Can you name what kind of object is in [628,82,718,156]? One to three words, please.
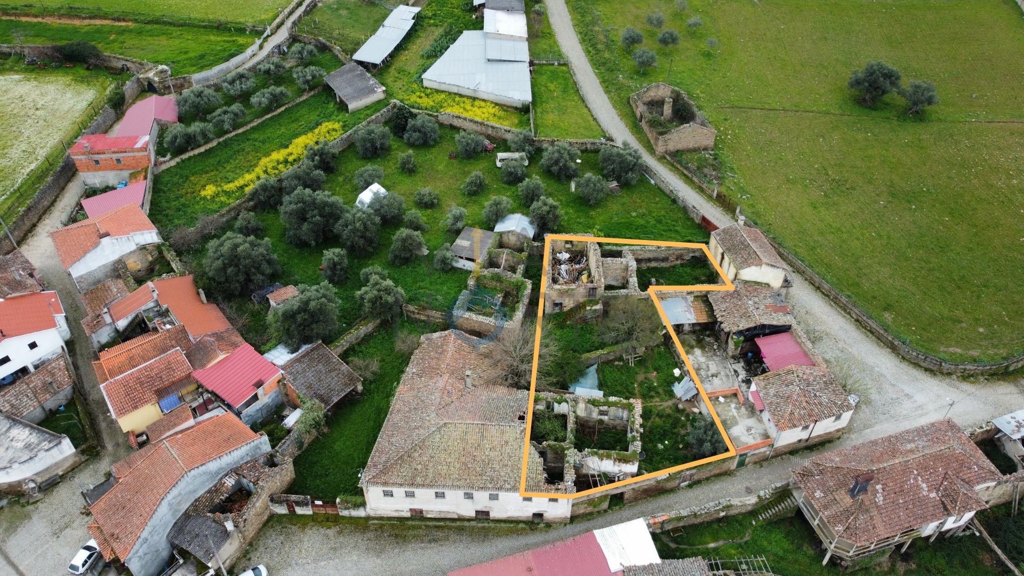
building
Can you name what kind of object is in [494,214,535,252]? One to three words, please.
shed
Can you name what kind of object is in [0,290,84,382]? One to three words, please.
house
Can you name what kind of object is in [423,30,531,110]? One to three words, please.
barn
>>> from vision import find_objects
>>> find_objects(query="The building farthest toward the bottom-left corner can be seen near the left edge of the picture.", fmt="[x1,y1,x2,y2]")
[0,415,79,502]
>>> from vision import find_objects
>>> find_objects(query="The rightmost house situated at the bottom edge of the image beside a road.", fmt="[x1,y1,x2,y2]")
[789,418,1004,566]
